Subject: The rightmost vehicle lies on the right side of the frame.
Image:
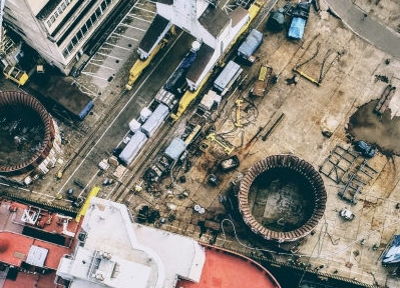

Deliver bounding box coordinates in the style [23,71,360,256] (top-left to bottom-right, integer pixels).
[356,137,377,157]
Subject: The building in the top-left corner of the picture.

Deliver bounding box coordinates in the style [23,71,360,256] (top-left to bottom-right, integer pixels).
[0,0,126,75]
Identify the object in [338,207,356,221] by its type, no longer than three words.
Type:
vehicle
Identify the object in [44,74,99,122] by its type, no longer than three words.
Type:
trailer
